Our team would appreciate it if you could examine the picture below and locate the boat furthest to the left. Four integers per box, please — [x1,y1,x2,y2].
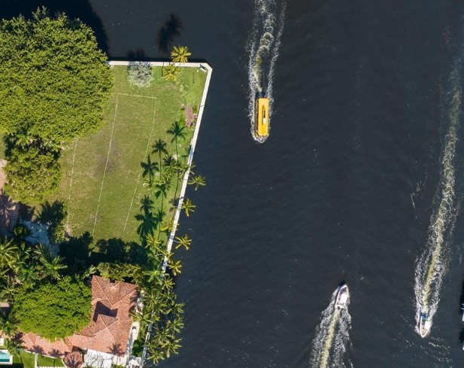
[332,284,349,313]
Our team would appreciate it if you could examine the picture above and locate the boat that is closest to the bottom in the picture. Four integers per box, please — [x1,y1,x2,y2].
[418,309,431,337]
